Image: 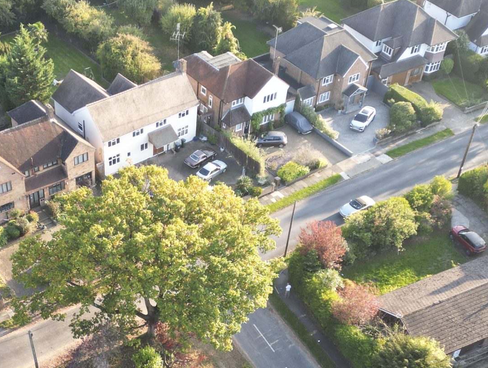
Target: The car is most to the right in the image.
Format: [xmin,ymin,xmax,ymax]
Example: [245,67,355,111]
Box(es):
[450,226,488,256]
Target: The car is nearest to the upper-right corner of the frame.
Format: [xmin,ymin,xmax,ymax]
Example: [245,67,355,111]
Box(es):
[346,102,380,131]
